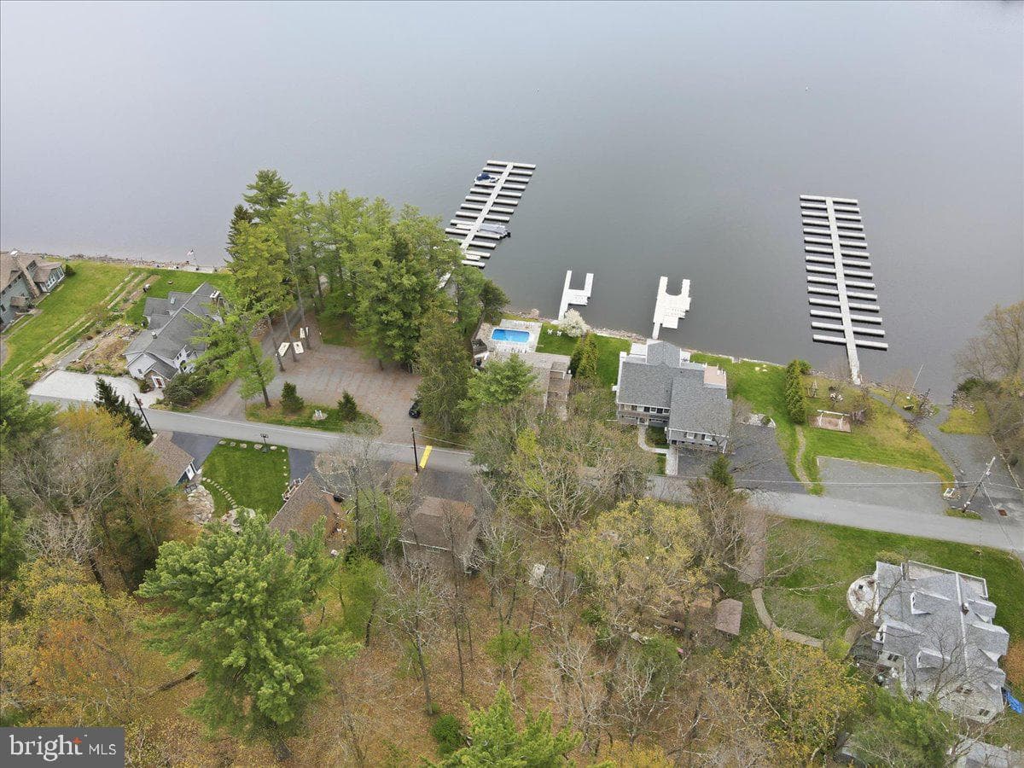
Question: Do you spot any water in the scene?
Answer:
Yes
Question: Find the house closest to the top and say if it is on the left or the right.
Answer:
left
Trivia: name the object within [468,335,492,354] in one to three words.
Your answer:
gazebo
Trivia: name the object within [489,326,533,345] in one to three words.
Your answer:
swimming pool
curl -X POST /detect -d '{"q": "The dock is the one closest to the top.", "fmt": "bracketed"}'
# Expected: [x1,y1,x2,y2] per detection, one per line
[440,158,537,285]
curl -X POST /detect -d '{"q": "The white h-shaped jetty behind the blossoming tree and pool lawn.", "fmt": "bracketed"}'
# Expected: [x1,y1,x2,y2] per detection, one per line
[558,271,594,321]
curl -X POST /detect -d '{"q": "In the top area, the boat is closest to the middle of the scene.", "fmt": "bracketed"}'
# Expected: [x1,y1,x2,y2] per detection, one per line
[479,224,511,236]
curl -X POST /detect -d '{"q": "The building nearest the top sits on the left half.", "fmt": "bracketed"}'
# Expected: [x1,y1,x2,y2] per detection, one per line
[0,245,70,329]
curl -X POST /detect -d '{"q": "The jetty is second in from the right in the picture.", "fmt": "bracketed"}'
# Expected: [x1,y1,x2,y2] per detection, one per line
[653,276,691,341]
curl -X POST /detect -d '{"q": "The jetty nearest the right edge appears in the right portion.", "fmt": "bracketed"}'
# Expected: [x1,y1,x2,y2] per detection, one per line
[799,195,889,379]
